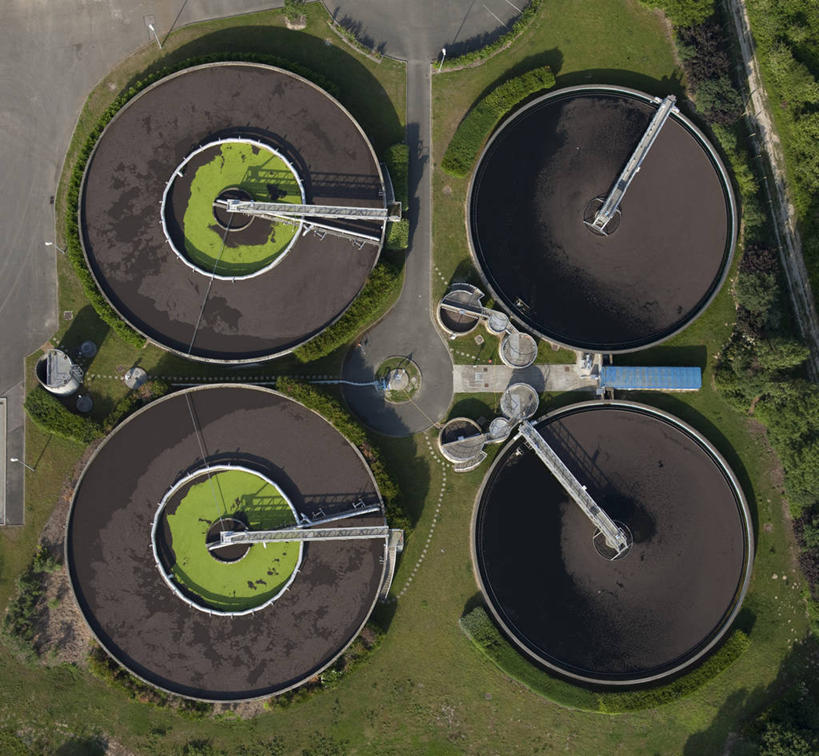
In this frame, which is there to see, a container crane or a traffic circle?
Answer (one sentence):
It is a traffic circle that can be seen here.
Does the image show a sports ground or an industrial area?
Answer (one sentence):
This image shows an industrial area.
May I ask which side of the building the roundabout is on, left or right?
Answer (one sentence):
From the viewer's perspective, the roundabout falls to the left of the building.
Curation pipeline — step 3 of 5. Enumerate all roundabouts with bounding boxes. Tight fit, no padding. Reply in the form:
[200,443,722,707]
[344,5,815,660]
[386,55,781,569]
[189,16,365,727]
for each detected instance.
[341,252,454,437]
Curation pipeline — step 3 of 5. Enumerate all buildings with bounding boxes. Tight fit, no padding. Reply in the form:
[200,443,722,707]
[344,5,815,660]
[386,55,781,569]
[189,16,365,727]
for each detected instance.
[600,366,701,394]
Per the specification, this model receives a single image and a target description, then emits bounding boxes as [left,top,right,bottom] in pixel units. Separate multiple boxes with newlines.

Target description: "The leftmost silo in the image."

[35,349,98,390]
